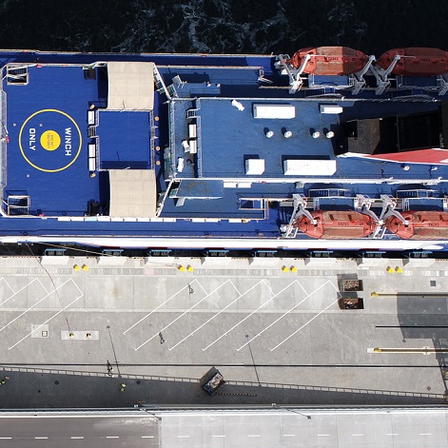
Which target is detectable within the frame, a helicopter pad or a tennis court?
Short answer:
helicopter pad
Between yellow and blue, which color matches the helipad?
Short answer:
yellow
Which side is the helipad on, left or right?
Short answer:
left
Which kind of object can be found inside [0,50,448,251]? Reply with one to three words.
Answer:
ship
